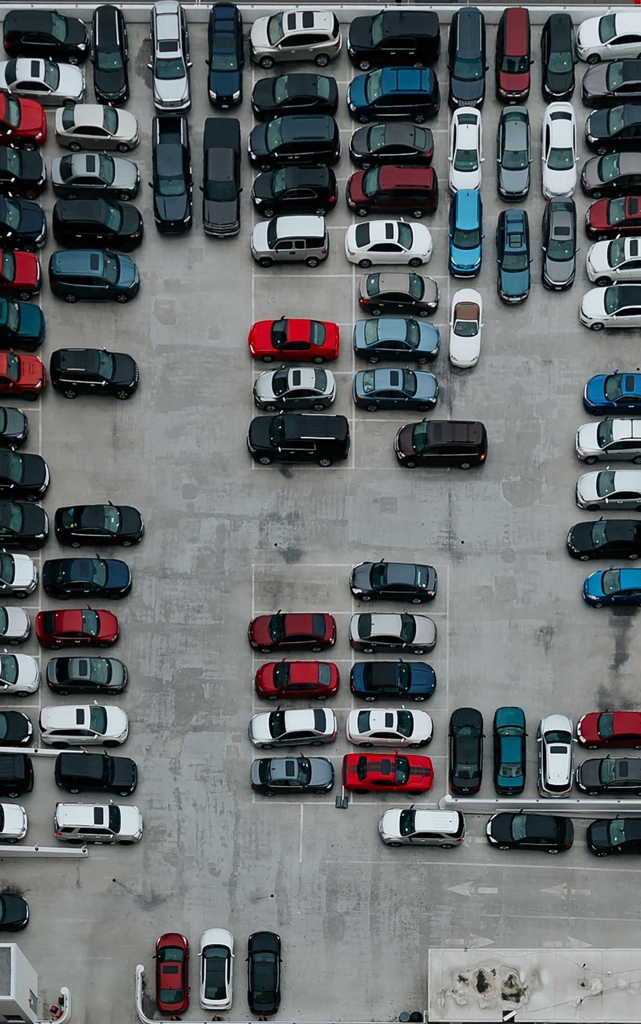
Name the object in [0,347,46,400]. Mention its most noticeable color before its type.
red truck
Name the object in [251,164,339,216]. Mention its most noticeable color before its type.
black car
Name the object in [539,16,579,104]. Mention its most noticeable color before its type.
black car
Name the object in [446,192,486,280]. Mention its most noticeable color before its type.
blue car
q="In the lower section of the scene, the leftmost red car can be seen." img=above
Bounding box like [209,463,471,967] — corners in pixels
[35,604,120,649]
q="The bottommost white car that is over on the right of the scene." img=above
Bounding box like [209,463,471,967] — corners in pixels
[378,803,466,848]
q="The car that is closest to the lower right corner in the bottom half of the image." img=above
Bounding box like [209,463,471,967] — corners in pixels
[584,813,641,856]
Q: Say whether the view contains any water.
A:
No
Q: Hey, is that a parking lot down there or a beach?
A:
parking lot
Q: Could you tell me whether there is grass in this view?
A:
No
